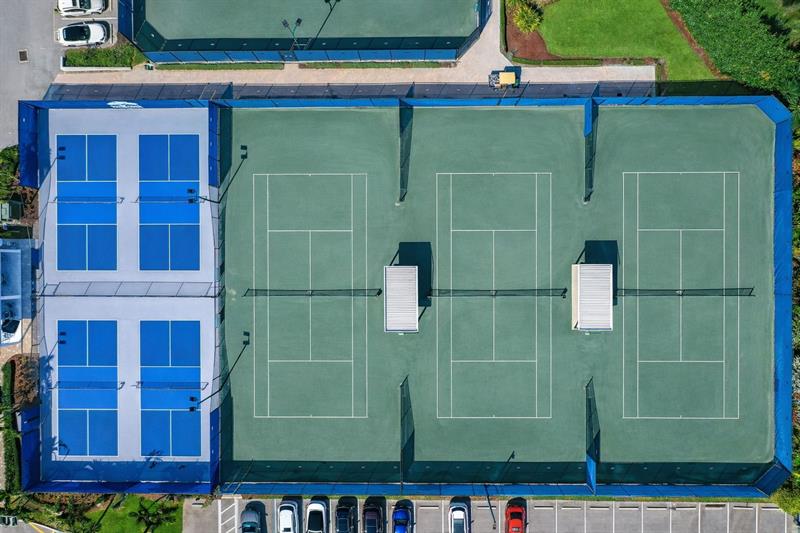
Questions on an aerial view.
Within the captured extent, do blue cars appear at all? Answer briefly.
Yes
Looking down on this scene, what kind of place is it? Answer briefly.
sports ground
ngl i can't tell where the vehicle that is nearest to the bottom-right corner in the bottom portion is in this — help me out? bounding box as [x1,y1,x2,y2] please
[505,504,525,533]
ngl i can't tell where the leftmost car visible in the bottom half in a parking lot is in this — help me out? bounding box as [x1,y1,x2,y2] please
[238,506,262,533]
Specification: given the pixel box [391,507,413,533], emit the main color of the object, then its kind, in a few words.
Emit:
blue car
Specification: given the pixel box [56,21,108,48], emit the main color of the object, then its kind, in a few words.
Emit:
white car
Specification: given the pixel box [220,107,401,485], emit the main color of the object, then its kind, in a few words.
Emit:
green tennis court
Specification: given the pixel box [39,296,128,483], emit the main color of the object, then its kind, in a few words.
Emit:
blue sports court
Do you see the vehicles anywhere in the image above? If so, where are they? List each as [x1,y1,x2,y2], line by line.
[238,506,262,533]
[279,503,299,533]
[505,504,525,533]
[362,504,382,533]
[334,504,355,533]
[56,21,108,48]
[54,0,108,19]
[306,503,327,533]
[448,503,469,533]
[391,507,413,533]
